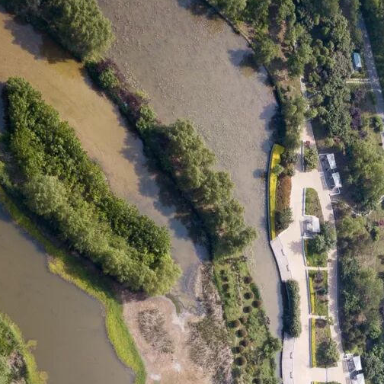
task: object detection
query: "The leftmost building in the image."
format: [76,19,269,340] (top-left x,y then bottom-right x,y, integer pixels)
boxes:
[302,215,320,238]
